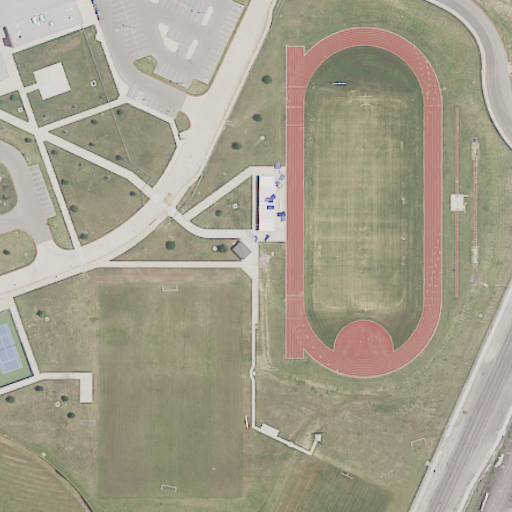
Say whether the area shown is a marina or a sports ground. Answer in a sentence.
This image shows a sports ground.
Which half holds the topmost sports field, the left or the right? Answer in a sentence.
You can find the topmost sports field on the right side of the picture.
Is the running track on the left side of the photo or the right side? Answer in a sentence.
The running track sits on the right side.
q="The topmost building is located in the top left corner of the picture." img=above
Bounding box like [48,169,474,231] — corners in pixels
[0,0,84,48]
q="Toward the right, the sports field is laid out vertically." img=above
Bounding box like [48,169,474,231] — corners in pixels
[304,46,424,353]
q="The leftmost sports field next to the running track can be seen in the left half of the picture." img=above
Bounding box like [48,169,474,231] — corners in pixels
[98,280,244,498]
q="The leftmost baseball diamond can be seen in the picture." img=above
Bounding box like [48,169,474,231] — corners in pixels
[0,436,90,512]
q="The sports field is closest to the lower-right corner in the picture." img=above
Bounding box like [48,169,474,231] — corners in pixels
[276,457,392,512]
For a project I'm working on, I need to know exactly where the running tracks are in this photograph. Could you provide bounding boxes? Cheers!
[286,28,442,378]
